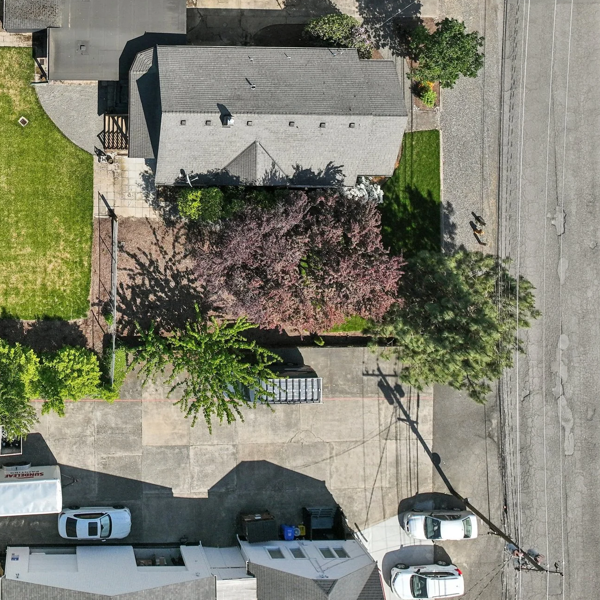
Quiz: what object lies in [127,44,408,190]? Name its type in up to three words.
house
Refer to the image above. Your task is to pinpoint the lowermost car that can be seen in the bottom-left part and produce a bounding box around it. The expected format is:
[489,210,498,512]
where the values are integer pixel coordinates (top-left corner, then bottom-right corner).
[60,506,130,542]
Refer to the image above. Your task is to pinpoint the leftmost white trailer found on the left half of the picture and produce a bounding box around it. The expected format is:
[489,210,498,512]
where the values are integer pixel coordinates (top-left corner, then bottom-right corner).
[0,463,78,515]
